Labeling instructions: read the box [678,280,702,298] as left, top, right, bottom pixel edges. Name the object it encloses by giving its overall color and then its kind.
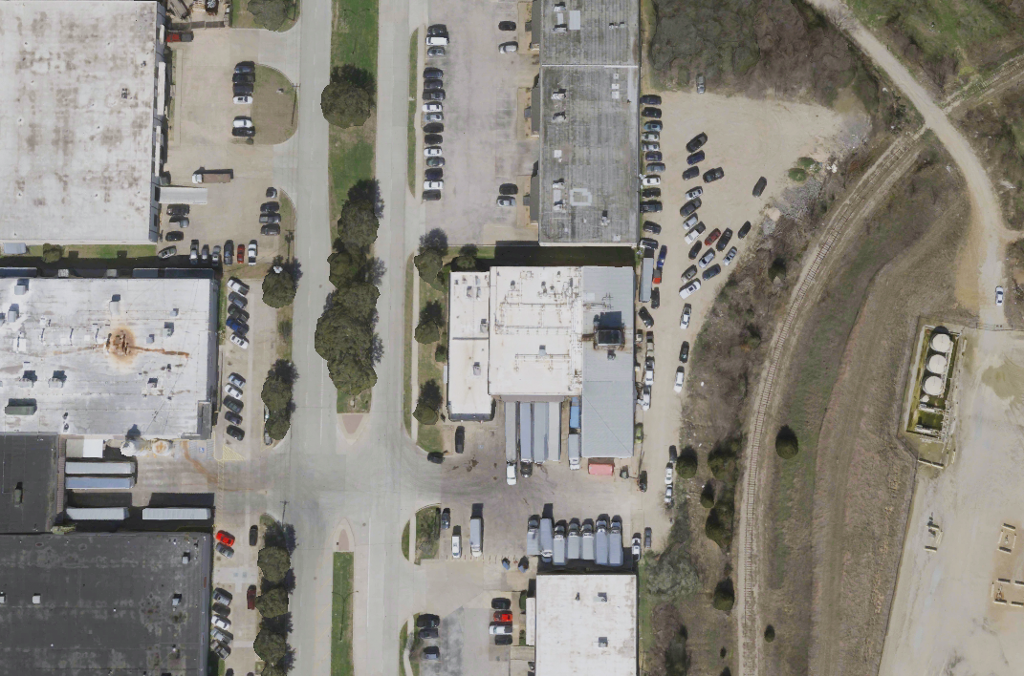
white vehicle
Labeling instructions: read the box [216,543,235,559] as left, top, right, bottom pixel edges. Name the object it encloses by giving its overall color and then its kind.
gray car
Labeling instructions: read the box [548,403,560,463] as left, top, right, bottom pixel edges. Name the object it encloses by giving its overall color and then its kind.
white vehicle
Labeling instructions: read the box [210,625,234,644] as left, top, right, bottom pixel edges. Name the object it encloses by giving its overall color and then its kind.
gray vehicle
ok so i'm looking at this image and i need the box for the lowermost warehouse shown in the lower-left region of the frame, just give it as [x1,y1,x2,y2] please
[0,533,211,676]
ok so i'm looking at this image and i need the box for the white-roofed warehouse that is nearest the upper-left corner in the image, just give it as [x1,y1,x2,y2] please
[0,0,212,245]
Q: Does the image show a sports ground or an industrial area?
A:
industrial area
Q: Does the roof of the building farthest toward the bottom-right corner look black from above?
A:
No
